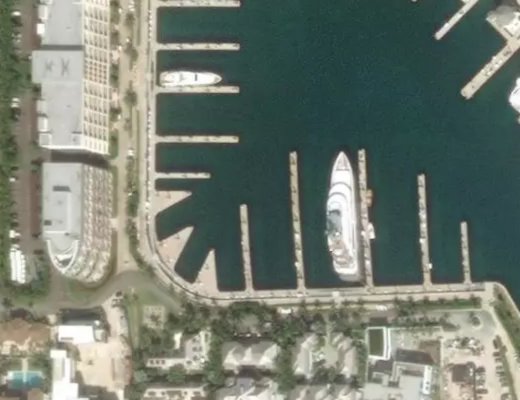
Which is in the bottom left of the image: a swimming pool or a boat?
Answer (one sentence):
You can see a swimming pool in the bottom left of the image.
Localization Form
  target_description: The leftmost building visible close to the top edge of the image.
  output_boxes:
[32,0,110,155]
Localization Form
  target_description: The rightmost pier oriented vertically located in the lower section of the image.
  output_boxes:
[461,222,473,283]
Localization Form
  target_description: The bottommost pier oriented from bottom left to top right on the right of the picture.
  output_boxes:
[461,40,520,99]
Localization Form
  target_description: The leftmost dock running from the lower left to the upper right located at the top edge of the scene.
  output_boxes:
[435,0,478,42]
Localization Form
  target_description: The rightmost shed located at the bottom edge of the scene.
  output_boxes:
[452,363,471,384]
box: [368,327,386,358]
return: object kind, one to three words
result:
sports court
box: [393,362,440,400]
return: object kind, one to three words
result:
building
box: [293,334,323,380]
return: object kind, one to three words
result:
house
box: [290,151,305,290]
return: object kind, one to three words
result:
pier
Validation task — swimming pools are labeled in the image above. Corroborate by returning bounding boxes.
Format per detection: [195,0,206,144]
[6,357,43,390]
